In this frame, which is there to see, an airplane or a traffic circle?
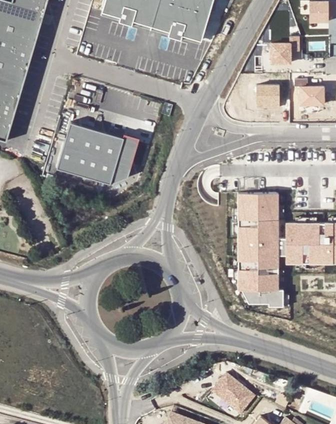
traffic circle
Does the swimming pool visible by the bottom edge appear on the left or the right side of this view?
right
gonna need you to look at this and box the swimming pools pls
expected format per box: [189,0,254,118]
[306,40,326,52]
[299,387,336,424]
